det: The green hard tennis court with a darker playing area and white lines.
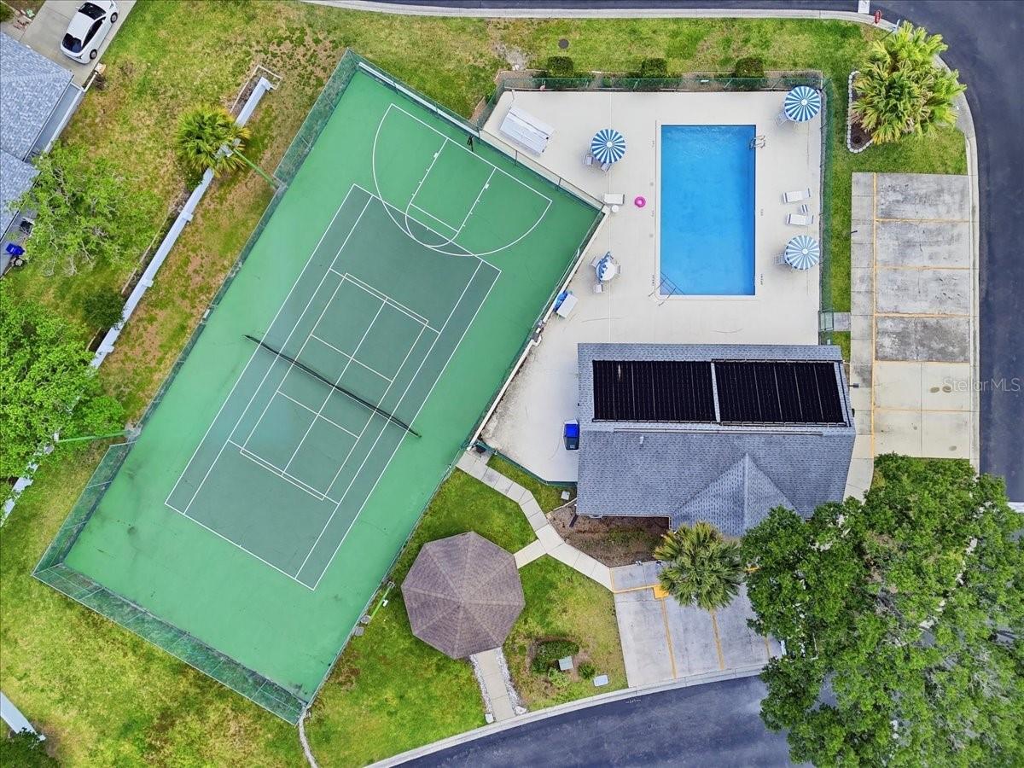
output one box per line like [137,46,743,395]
[64,69,603,703]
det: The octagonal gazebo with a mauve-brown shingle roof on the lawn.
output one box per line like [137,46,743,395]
[401,531,527,657]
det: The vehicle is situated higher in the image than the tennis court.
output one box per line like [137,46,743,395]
[60,0,118,60]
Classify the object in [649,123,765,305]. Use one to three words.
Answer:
swimming pool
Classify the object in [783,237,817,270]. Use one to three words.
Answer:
umbrella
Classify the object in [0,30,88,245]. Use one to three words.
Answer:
house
